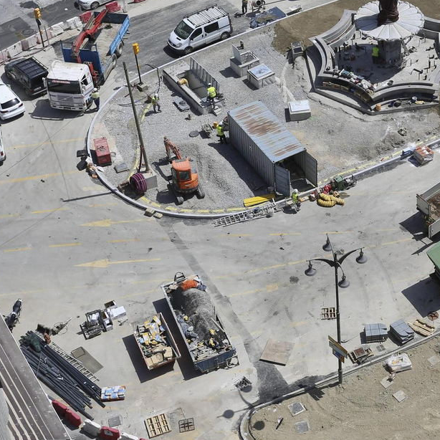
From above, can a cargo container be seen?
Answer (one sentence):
Yes, I can see a cargo container in this picture.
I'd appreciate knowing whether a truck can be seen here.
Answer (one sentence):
Yes, the frame does contain a truck.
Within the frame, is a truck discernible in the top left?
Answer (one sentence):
Yes, there is a truck in the top left.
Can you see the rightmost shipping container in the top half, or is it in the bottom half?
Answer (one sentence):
The rightmost shipping container is in the top half of the image.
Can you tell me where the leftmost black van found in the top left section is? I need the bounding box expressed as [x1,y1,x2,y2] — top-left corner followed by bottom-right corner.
[2,58,46,101]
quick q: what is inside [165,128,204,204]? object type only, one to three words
work vehicle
